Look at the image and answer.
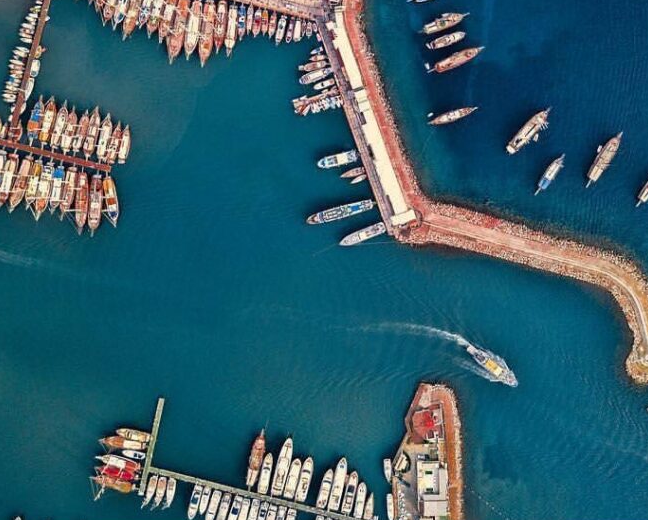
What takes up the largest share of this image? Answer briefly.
water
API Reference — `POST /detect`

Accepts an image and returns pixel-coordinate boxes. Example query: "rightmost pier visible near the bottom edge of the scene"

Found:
[391,383,466,520]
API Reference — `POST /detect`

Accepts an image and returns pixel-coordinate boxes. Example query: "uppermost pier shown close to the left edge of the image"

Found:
[8,0,50,143]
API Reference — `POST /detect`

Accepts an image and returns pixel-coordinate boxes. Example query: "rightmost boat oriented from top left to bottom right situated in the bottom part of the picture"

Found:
[464,345,520,388]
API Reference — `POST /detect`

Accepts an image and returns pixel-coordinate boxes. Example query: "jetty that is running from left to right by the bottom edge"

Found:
[150,466,356,520]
